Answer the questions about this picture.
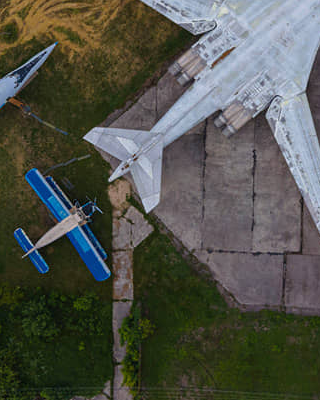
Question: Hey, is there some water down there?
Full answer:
No, there's no water in this view.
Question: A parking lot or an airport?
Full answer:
This looks like an airport.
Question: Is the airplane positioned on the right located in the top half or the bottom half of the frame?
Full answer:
The top half of the photo is where the airplane positioned on the right is.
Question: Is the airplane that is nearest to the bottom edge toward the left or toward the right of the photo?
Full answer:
The airplane that is nearest to the bottom edge appears in the left half of the scene.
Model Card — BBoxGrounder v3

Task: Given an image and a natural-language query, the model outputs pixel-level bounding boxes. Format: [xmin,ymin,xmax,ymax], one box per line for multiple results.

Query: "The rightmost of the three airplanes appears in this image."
[83,0,320,234]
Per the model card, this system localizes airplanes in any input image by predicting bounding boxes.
[83,0,320,234]
[0,43,57,109]
[14,169,110,281]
